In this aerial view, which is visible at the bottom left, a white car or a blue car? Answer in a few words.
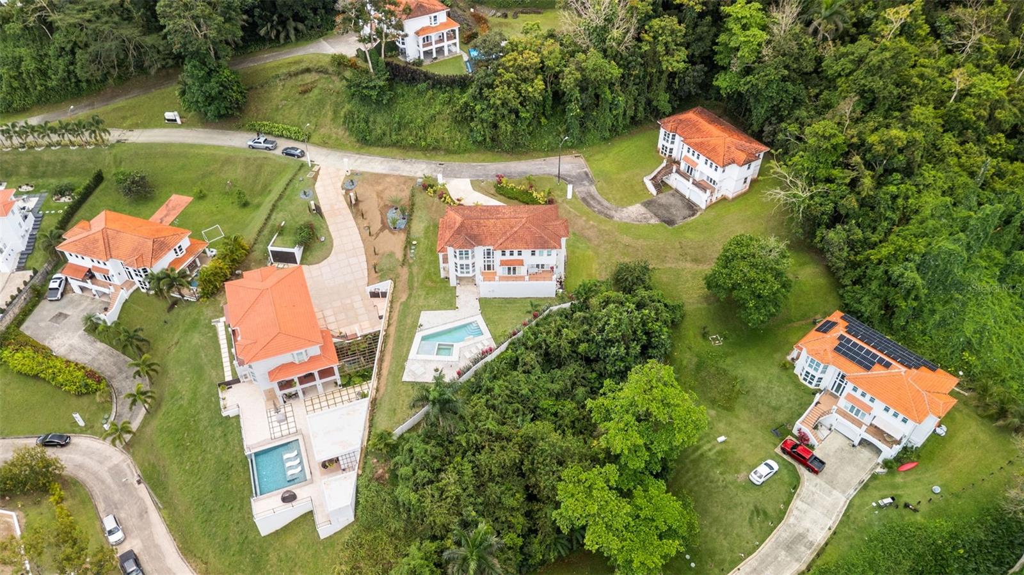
white car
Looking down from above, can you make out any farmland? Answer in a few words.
No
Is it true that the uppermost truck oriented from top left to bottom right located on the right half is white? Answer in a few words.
No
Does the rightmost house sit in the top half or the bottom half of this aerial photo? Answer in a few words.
bottom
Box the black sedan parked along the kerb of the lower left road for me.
[32,431,69,448]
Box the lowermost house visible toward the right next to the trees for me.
[786,310,958,465]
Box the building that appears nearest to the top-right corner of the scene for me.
[652,107,769,207]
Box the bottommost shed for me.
[322,471,356,536]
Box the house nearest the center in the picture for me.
[439,205,570,299]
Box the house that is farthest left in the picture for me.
[0,187,42,278]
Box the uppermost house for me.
[359,0,463,61]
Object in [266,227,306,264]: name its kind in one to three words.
building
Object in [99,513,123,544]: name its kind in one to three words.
car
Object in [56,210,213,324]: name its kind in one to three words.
house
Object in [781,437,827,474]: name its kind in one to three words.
truck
